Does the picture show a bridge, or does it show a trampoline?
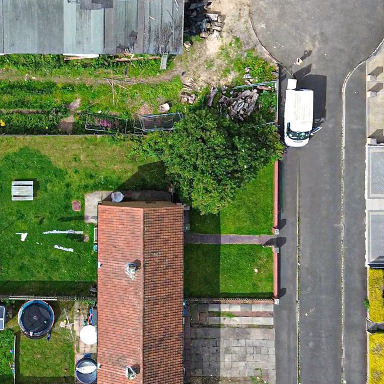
trampoline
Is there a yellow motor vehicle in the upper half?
No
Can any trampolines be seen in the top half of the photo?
No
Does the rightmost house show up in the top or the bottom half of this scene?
bottom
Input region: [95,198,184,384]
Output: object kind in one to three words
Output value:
house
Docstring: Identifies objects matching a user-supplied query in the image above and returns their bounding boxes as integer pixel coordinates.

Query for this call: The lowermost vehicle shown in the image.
[284,89,322,147]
